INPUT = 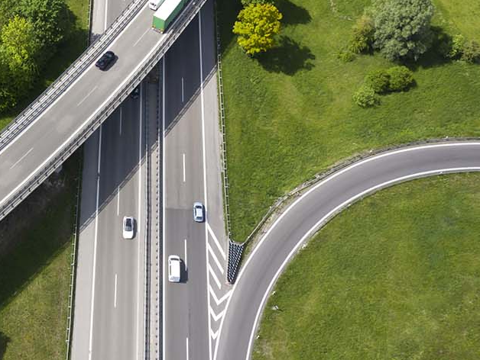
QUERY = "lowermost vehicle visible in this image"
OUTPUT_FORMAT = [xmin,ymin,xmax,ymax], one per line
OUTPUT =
[167,256,182,283]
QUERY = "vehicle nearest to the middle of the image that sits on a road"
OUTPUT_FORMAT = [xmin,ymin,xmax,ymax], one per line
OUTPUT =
[193,201,205,224]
